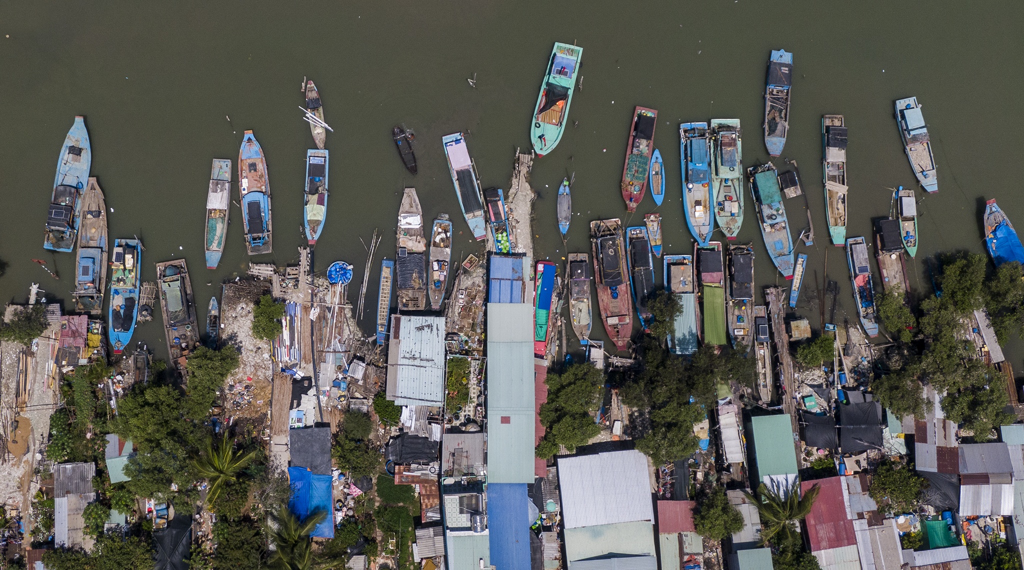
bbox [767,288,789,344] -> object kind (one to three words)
pier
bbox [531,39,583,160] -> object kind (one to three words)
boat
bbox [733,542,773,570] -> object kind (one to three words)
shed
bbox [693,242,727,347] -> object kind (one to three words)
boat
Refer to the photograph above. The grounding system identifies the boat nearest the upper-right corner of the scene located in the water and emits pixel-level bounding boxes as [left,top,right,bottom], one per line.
[892,97,938,195]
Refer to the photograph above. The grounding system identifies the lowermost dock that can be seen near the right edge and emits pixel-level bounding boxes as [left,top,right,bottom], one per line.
[999,359,1019,404]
